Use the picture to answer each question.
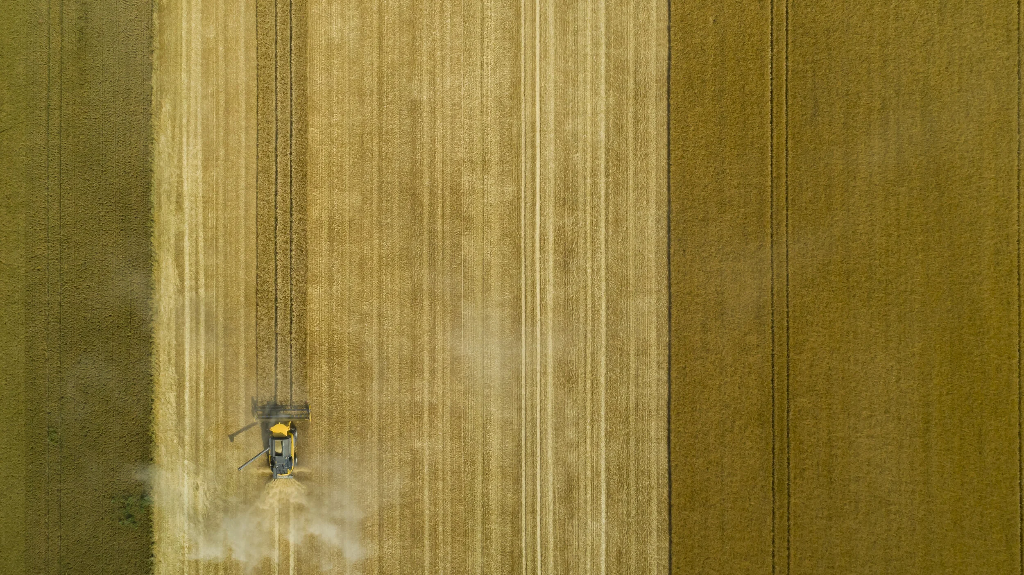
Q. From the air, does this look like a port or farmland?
farmland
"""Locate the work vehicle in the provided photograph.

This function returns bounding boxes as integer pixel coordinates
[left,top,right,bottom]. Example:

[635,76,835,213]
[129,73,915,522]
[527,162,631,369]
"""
[238,400,312,481]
